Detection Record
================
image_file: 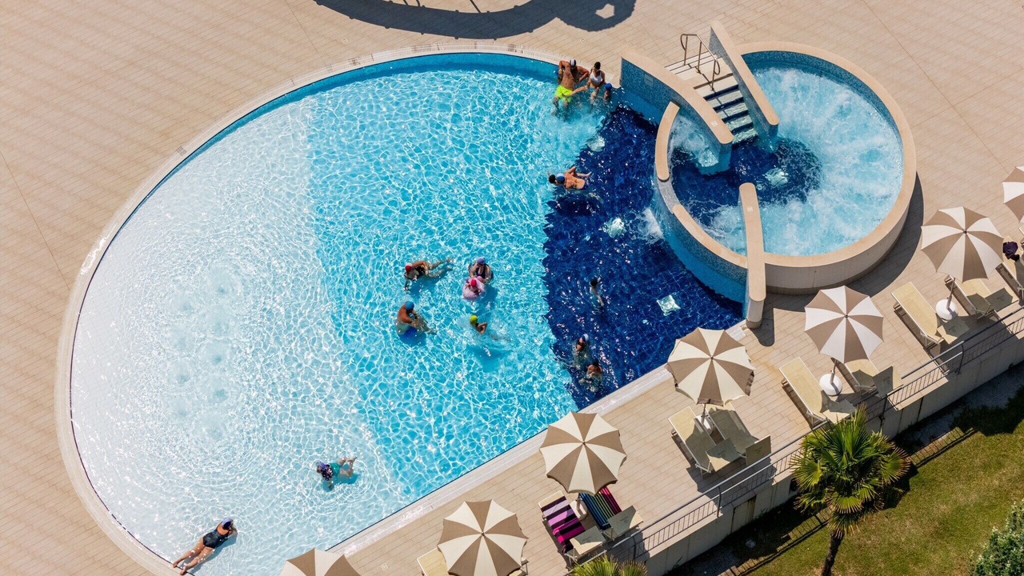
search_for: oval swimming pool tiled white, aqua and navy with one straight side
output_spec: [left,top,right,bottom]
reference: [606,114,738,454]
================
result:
[53,40,757,576]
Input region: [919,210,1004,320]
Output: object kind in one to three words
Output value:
umbrella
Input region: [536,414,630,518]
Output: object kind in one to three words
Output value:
umbrella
